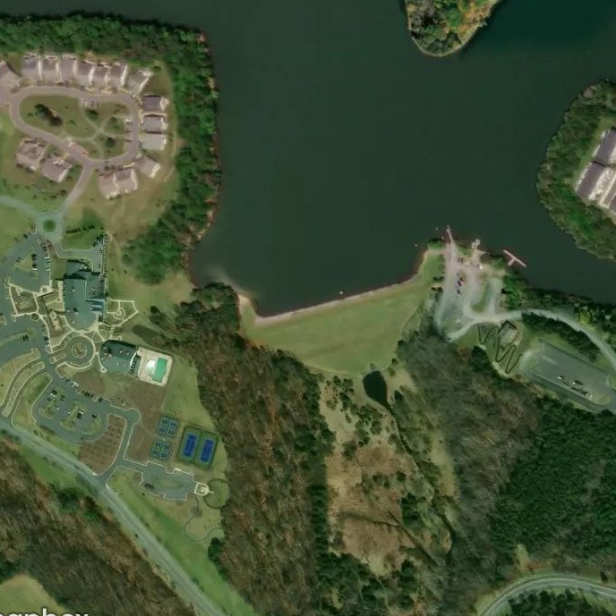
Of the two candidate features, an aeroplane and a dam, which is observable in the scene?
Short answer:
dam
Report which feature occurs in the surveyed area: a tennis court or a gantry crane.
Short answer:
tennis court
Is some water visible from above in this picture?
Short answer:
Yes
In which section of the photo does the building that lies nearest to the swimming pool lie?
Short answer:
left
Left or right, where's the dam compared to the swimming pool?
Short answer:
to the right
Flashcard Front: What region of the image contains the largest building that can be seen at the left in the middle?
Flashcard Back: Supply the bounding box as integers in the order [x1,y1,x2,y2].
[64,259,106,331]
